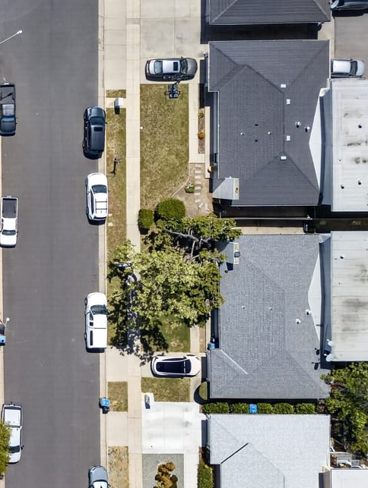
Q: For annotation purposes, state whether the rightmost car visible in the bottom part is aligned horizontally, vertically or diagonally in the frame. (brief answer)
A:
horizontally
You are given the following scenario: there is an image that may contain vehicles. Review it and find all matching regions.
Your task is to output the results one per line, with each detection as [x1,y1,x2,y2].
[142,57,196,81]
[148,355,199,380]
[0,401,25,462]
[330,56,363,78]
[0,195,19,247]
[82,107,107,157]
[331,0,367,12]
[84,173,109,221]
[83,292,107,350]
[0,82,19,135]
